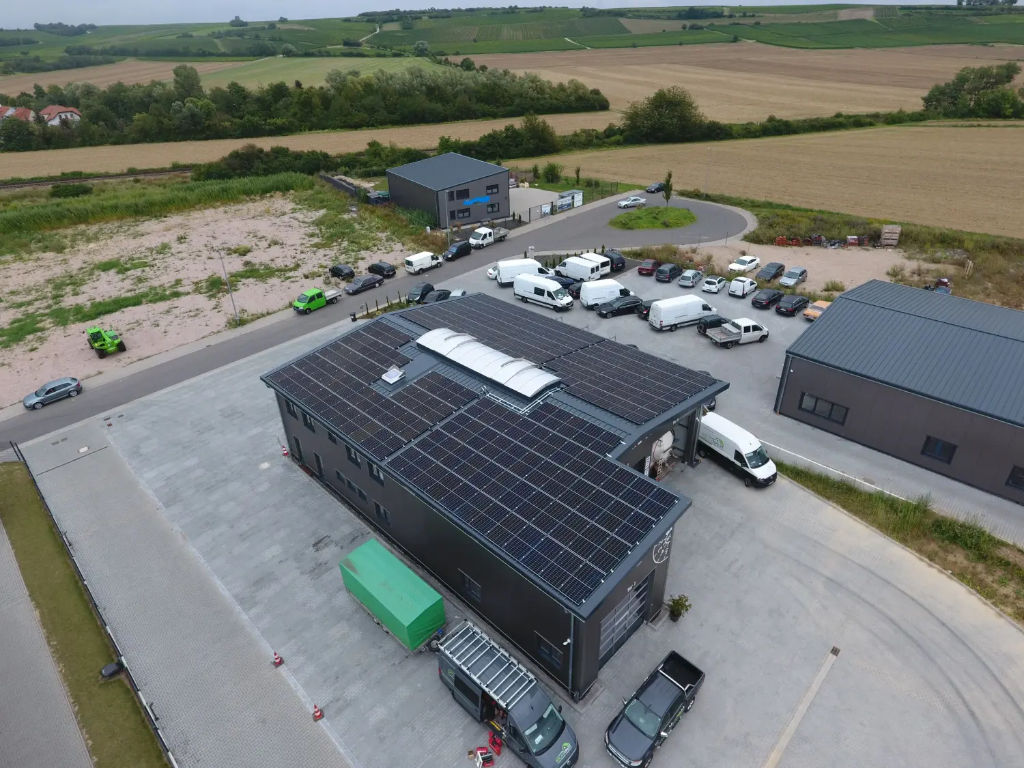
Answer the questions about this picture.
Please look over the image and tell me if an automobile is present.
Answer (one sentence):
Yes, an automobile is visible in the scene.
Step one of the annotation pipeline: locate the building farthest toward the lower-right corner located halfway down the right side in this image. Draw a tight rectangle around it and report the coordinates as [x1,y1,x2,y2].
[775,279,1024,505]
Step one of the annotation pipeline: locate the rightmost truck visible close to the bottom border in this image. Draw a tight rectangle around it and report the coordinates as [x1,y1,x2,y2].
[601,651,709,768]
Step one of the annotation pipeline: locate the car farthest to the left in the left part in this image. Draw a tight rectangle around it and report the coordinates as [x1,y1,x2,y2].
[15,375,84,410]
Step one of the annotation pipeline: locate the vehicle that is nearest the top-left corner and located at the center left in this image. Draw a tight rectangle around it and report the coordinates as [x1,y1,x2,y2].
[75,321,126,359]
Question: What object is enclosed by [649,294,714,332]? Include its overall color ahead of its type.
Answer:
white van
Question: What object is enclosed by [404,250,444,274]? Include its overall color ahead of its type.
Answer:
white vehicle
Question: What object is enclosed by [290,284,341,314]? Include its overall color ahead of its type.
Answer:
green truck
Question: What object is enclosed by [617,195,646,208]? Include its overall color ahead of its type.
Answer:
gray vehicle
